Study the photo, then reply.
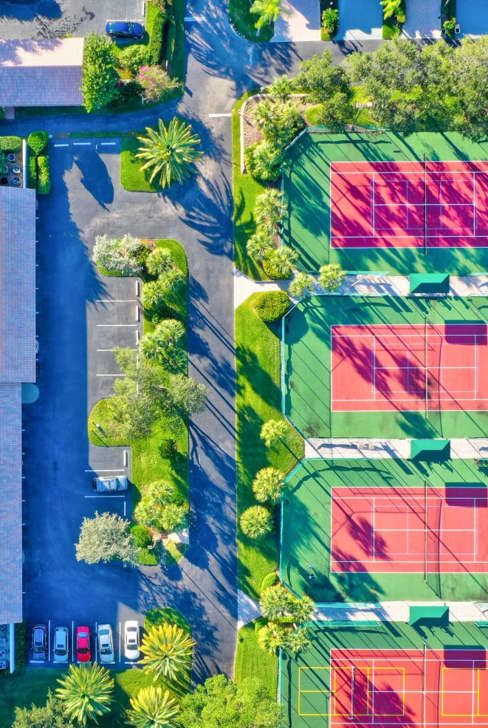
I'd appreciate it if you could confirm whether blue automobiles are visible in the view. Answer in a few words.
Yes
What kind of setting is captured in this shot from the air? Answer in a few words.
sports ground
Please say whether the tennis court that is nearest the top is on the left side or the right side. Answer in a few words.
right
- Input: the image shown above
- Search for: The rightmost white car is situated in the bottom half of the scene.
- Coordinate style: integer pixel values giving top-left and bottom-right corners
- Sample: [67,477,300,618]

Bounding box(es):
[124,621,140,659]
